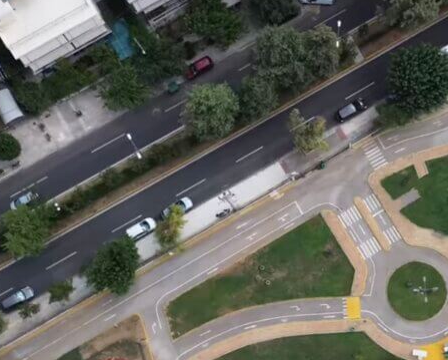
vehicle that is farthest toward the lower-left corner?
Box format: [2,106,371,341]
[2,286,36,311]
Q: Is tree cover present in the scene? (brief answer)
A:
Yes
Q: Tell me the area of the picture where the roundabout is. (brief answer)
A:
bottom right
